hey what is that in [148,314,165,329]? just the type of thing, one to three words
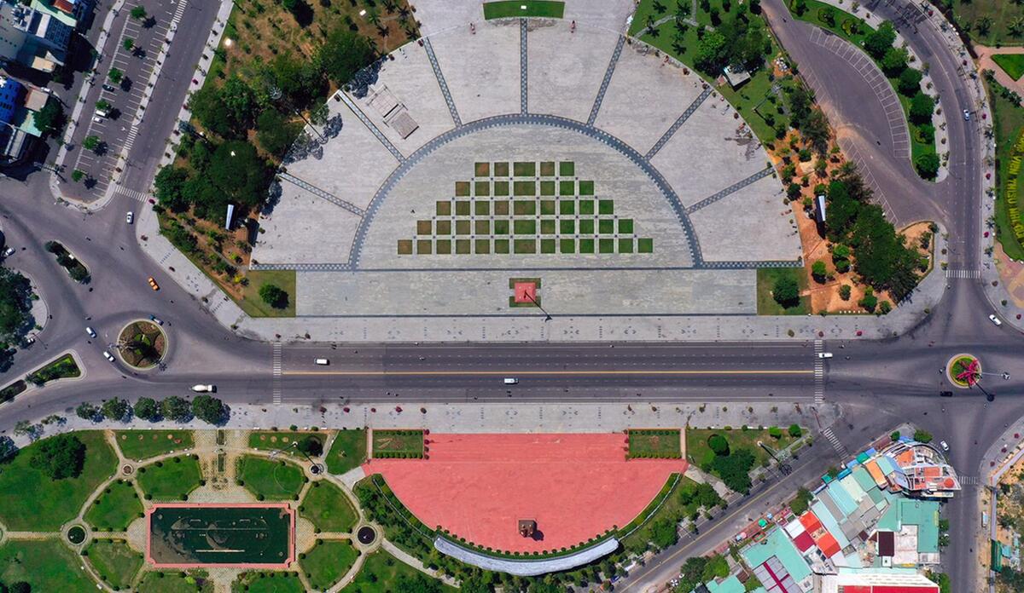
vehicle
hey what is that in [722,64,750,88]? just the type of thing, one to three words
building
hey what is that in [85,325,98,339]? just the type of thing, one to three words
vehicle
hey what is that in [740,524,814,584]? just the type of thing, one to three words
house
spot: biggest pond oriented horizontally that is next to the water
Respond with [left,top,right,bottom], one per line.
[146,504,295,569]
